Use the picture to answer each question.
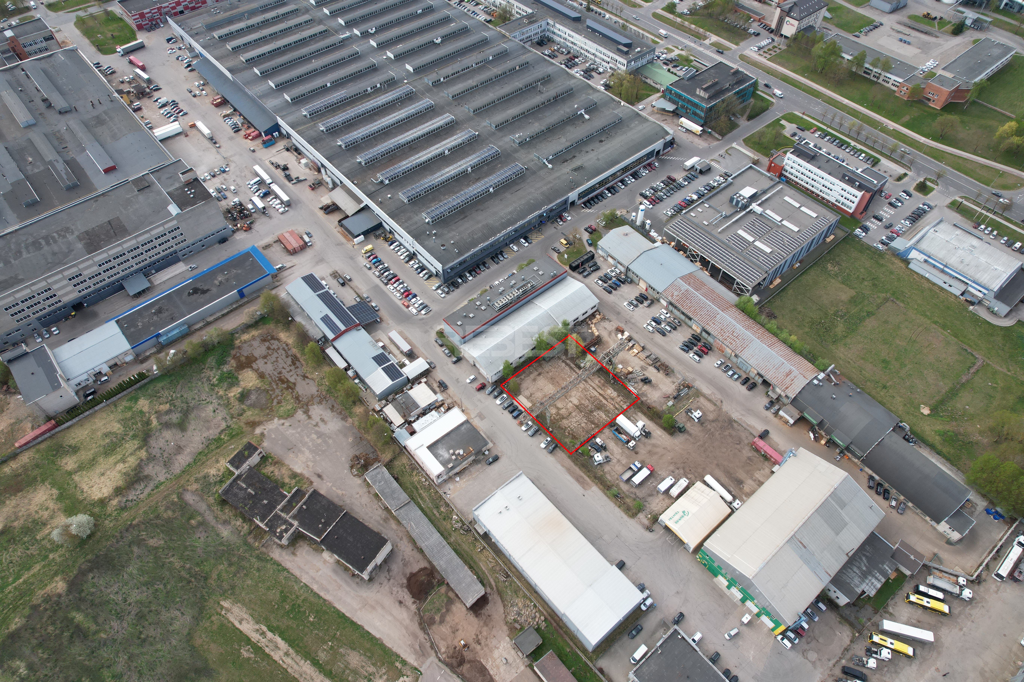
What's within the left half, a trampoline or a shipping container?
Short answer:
shipping container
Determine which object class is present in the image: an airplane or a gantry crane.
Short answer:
gantry crane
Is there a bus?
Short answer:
Yes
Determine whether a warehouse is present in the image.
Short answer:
Yes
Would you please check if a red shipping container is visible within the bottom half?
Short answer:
Yes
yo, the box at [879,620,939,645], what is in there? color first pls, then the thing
white trailer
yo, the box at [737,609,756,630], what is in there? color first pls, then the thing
white vehicle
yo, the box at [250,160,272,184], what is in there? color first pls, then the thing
white truck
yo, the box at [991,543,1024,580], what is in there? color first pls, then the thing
white bus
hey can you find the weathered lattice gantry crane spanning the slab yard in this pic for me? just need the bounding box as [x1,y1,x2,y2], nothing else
[517,338,632,429]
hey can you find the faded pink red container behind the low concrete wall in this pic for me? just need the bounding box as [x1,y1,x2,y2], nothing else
[0,427,45,456]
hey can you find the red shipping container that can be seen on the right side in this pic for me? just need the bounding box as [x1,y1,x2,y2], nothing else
[749,437,786,464]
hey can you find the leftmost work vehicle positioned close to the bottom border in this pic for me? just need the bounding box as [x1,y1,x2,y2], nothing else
[459,639,471,655]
